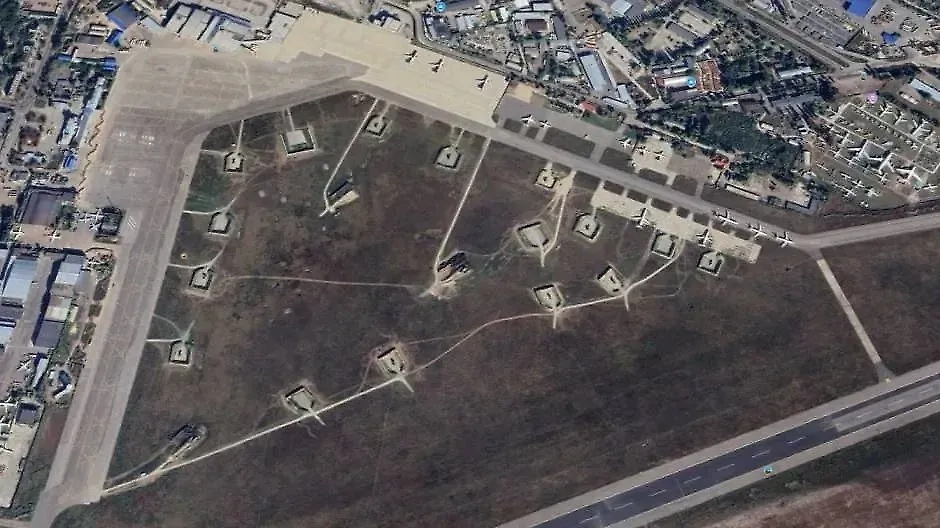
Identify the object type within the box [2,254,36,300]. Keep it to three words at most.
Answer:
building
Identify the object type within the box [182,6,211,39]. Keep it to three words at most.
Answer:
hangar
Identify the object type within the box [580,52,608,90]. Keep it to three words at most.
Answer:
building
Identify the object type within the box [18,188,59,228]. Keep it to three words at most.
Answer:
hangar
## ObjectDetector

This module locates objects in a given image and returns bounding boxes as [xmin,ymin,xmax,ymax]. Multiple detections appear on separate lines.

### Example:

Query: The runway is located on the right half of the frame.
[498,361,940,528]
